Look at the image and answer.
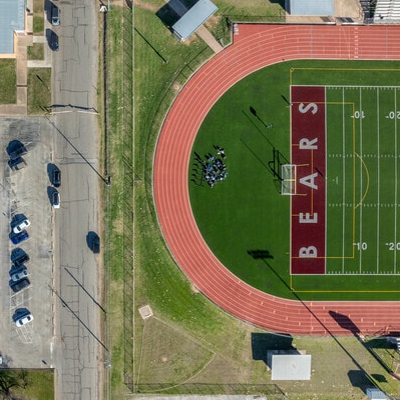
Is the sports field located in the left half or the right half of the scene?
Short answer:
right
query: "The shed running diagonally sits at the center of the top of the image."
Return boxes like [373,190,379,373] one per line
[171,0,217,44]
